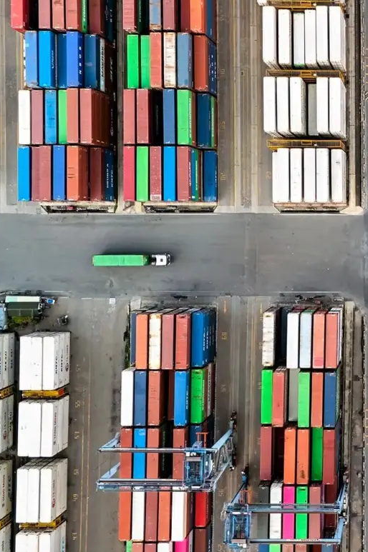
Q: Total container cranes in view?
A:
two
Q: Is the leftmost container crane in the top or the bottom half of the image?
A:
bottom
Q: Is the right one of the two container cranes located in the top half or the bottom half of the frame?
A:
bottom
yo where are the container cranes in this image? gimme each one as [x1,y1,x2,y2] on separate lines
[101,411,238,492]
[222,461,353,548]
